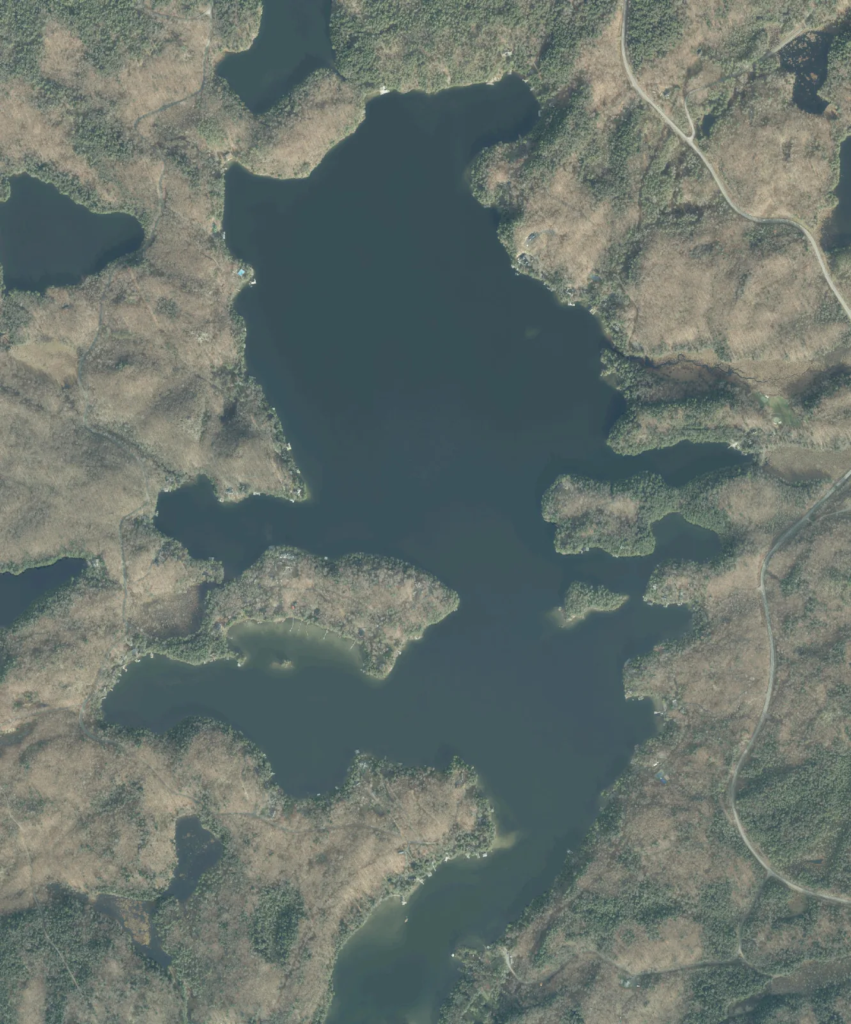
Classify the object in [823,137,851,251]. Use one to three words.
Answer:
pond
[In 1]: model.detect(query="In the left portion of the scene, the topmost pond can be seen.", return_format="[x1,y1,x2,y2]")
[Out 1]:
[217,0,337,114]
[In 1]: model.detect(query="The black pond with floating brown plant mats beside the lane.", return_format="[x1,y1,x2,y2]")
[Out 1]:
[780,30,833,113]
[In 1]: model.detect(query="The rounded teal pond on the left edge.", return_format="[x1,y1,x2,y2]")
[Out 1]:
[0,173,142,291]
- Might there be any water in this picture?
Yes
